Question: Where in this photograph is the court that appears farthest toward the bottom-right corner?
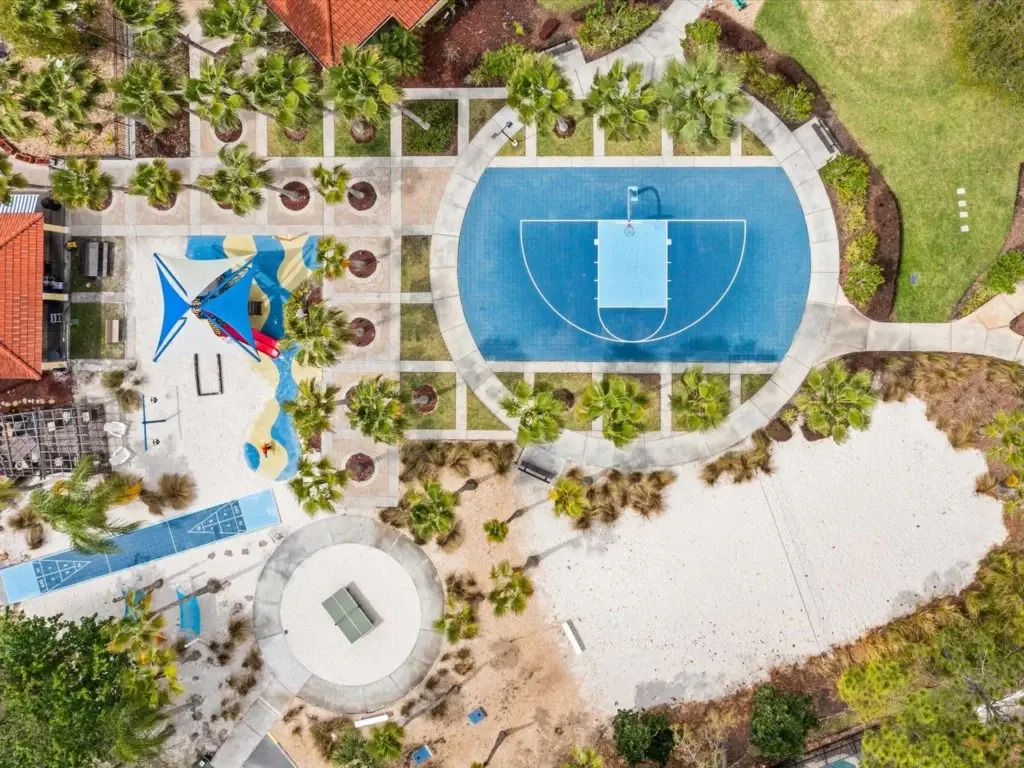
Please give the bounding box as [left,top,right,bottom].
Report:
[528,397,1005,719]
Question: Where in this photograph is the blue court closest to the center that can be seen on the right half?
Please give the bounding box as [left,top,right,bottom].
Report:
[457,167,810,362]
